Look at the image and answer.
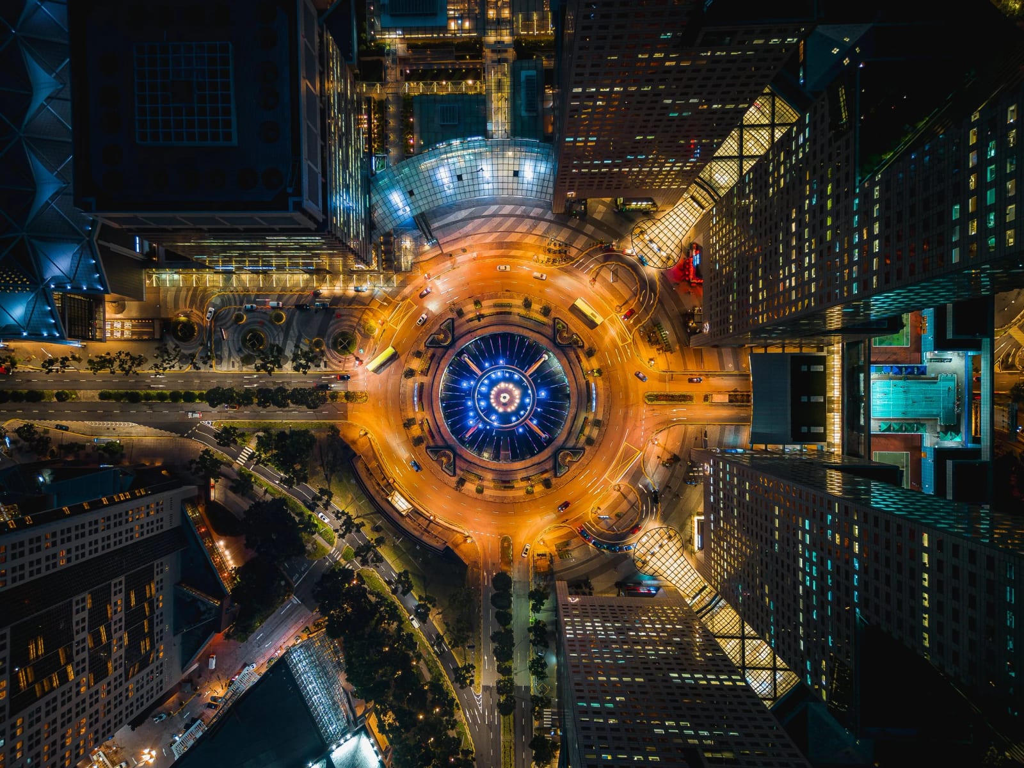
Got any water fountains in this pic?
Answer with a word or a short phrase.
Yes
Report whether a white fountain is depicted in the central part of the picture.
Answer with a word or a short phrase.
No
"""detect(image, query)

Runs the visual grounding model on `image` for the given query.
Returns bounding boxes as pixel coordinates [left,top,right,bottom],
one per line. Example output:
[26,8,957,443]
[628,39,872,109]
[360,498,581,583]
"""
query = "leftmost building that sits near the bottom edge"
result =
[0,491,184,768]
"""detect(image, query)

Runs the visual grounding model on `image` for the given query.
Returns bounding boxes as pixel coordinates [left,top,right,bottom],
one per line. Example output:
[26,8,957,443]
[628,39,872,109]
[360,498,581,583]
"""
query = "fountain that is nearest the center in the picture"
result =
[428,321,582,474]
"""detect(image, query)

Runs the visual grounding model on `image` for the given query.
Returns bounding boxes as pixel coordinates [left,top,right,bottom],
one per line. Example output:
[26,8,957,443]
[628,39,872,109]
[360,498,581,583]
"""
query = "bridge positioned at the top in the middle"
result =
[484,38,512,75]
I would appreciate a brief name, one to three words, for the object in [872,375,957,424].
swimming pool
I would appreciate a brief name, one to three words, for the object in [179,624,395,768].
building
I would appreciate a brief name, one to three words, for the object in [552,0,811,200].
building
